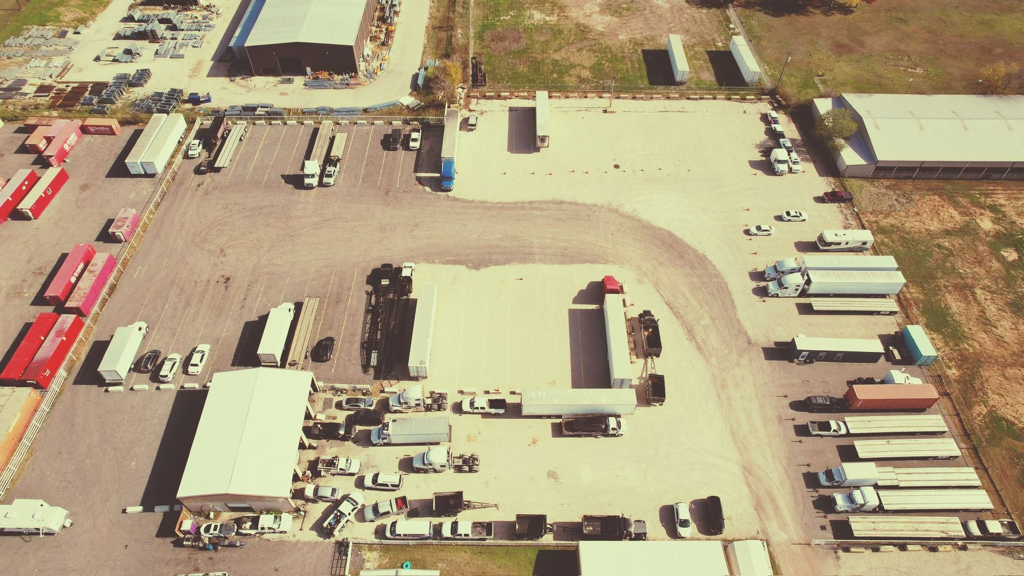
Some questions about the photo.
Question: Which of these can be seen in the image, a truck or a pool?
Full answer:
Of the two, only a truck appears.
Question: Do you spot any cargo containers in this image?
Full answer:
Yes, a cargo container can be made out from above.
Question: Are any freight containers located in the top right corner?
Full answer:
No, in the top right corner there is no freight container.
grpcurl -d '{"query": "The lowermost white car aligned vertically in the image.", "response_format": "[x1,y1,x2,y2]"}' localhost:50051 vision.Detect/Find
[673,502,692,538]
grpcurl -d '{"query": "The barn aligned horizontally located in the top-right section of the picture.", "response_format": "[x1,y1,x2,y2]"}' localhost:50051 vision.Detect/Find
[840,94,1024,178]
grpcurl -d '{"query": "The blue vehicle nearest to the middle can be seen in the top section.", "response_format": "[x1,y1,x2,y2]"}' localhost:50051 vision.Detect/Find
[440,159,457,192]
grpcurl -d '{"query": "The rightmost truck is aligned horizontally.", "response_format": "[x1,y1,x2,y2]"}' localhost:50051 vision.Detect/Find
[963,517,1024,539]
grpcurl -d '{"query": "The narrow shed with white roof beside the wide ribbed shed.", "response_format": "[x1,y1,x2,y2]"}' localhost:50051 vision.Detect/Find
[727,541,775,576]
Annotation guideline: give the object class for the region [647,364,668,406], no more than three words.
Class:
trailer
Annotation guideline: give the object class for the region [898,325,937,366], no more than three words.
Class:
shipping container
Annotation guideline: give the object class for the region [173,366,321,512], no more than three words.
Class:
building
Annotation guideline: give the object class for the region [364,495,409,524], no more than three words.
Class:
truck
